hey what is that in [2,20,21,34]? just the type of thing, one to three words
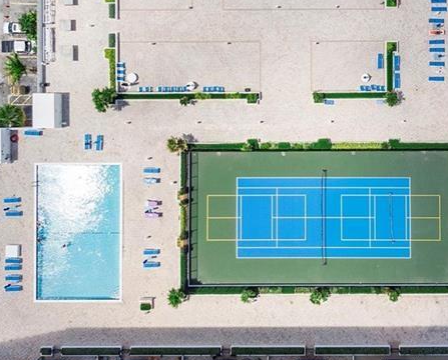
car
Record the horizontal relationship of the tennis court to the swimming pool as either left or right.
right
